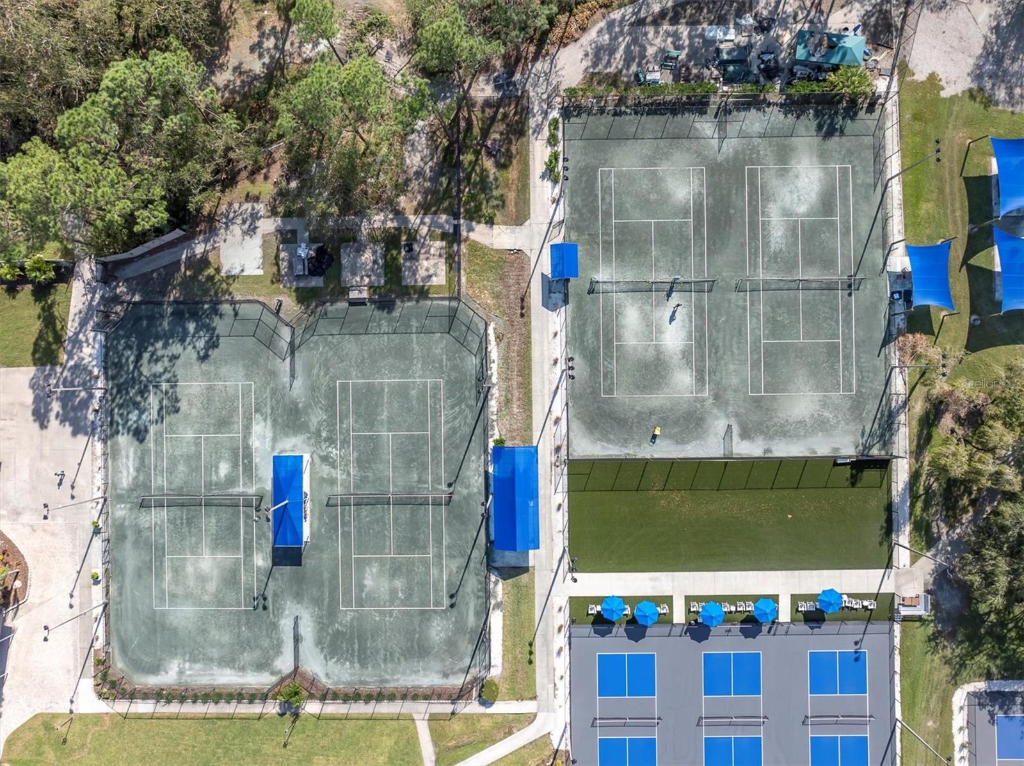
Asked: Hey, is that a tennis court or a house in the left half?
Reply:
tennis court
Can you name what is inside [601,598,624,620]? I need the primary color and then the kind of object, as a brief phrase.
blue umbrella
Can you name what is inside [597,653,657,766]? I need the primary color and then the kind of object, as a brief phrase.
blue sports court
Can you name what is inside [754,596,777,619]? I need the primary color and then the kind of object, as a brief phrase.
blue umbrella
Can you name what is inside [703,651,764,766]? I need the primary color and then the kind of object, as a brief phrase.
blue sports court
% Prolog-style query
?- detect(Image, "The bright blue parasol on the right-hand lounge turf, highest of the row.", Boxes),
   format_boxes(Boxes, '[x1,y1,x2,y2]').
[816,589,840,612]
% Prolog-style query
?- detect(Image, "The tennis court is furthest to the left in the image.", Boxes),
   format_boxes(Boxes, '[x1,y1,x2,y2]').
[110,303,298,687]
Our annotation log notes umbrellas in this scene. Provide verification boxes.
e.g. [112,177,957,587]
[601,598,624,620]
[754,596,777,619]
[635,600,659,624]
[700,603,724,626]
[816,589,840,612]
